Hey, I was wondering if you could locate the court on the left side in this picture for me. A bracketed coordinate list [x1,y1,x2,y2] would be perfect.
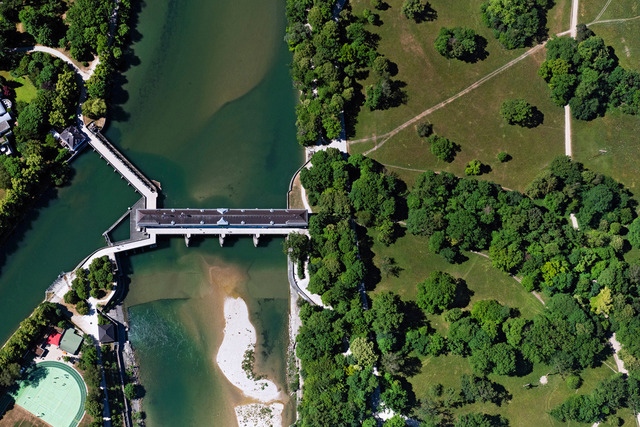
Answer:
[4,359,86,427]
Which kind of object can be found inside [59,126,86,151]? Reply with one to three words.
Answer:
house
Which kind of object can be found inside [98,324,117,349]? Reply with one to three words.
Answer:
building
